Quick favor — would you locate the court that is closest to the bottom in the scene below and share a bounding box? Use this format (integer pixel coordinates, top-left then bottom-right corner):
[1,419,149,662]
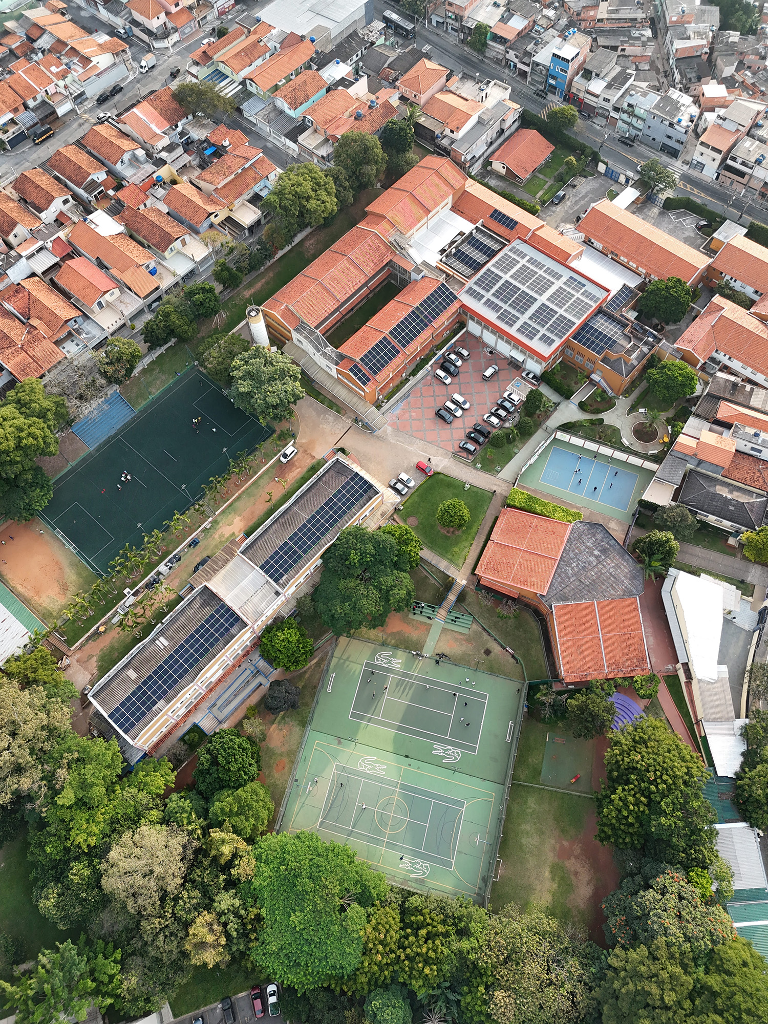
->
[276,722,508,895]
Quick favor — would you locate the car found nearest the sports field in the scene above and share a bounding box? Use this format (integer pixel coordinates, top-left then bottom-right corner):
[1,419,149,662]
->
[280,448,298,463]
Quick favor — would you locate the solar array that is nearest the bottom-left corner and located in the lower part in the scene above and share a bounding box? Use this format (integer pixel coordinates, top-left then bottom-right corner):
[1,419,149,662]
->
[108,604,240,734]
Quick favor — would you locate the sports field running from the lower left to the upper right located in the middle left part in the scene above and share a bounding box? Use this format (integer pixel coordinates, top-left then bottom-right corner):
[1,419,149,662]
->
[36,364,275,580]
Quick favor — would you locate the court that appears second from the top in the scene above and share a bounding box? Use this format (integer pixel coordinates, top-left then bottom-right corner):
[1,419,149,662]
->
[294,636,527,786]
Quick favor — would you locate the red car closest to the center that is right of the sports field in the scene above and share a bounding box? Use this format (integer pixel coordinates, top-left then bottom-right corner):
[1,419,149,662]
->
[415,462,434,477]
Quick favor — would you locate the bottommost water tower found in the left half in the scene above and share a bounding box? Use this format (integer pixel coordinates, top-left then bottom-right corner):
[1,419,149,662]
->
[244,306,272,354]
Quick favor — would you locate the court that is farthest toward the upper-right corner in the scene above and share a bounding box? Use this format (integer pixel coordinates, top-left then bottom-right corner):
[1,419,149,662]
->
[519,438,656,524]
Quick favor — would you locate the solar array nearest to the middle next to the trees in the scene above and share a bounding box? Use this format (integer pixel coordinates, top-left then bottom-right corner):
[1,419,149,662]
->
[259,472,372,583]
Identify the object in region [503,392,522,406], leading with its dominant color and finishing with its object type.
white car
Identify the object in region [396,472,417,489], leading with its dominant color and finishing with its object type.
white car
